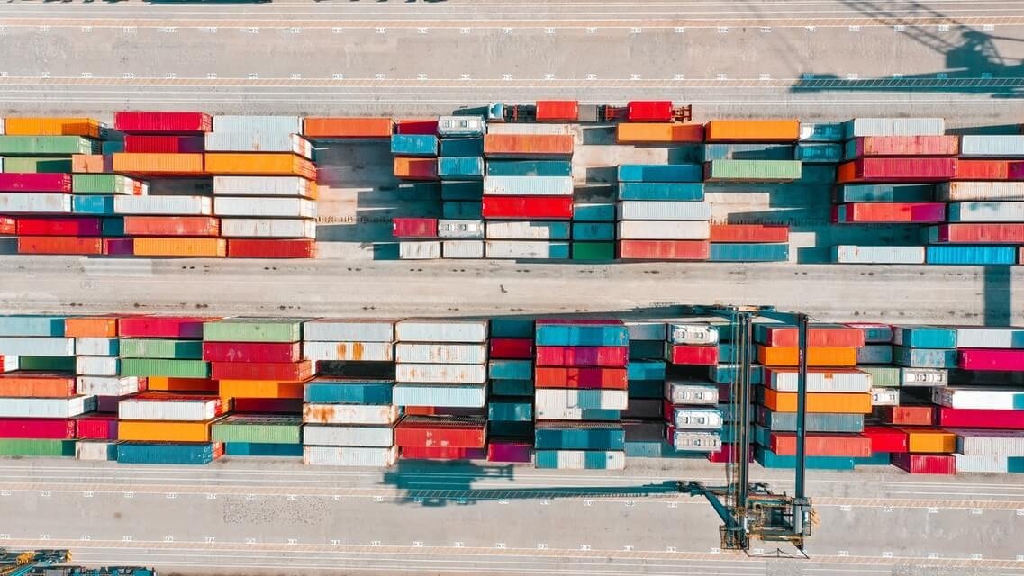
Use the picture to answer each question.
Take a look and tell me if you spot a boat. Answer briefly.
No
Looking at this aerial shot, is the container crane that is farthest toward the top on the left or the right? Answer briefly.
right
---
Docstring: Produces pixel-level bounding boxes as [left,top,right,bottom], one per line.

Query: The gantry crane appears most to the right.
[678,302,819,561]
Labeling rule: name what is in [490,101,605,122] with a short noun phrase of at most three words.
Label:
truck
